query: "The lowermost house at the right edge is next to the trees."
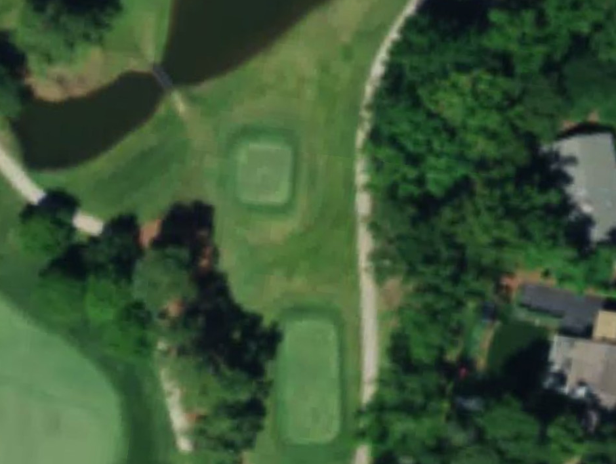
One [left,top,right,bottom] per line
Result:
[546,337,616,421]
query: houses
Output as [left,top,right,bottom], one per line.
[519,282,604,341]
[552,134,616,244]
[546,337,616,421]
